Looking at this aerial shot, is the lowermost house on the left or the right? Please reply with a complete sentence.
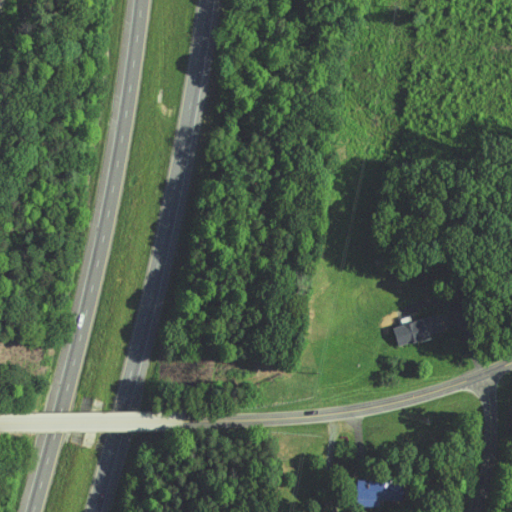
It is on the right.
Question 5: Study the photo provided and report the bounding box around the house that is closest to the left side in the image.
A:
[356,479,404,507]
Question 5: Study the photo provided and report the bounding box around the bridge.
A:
[0,412,185,434]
